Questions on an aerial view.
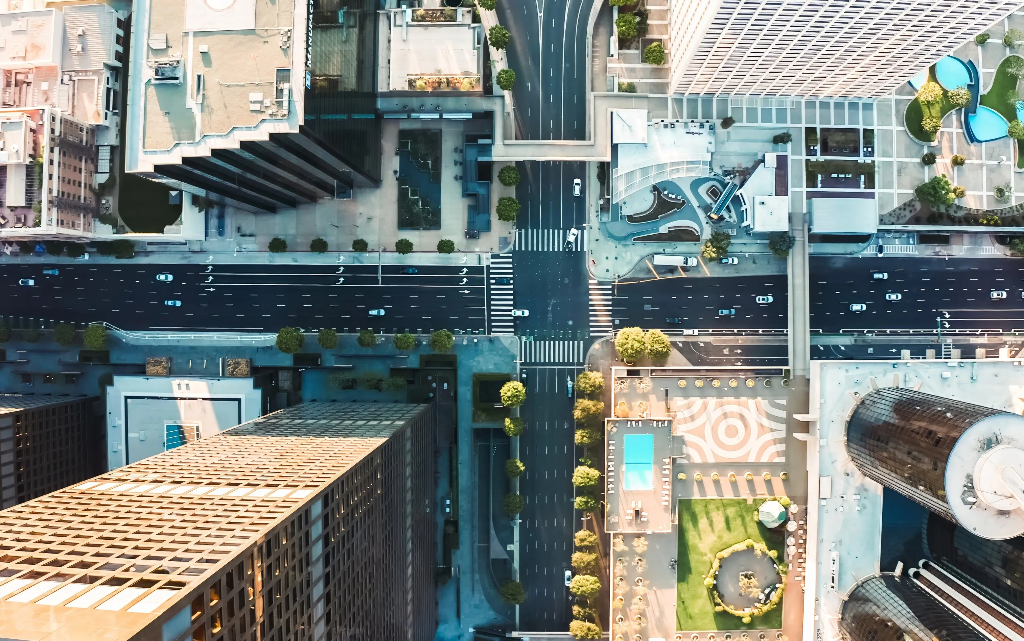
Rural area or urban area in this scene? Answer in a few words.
urban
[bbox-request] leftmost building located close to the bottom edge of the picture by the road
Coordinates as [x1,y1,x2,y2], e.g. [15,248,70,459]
[0,401,438,641]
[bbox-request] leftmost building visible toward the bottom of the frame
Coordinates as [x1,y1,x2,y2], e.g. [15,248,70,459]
[0,395,104,504]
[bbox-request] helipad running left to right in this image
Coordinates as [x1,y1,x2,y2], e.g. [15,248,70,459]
[187,0,258,31]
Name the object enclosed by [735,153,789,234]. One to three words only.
building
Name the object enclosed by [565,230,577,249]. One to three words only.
vehicle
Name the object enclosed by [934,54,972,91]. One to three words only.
swimming pool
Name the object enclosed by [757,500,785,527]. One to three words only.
gazebo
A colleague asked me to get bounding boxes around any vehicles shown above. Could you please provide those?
[885,293,901,300]
[41,268,61,276]
[574,179,580,195]
[564,571,572,587]
[512,310,528,316]
[683,329,698,336]
[850,304,866,311]
[565,230,577,249]
[157,274,173,281]
[117,254,133,260]
[71,253,91,260]
[876,243,885,259]
[719,257,738,265]
[521,367,528,383]
[872,273,888,279]
[165,299,181,307]
[367,309,386,316]
[758,295,774,303]
[653,255,698,265]
[990,291,1006,299]
[566,380,573,398]
[496,277,511,285]
[401,267,417,274]
[719,308,735,316]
